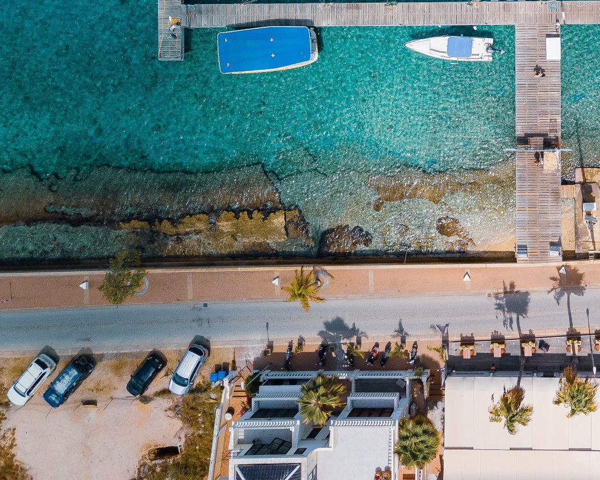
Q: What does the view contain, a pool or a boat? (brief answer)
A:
boat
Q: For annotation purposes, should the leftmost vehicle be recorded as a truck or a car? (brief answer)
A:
car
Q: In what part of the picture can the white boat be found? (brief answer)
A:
top right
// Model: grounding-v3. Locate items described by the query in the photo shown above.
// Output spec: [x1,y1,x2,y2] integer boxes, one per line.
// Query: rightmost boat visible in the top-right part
[404,34,504,64]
